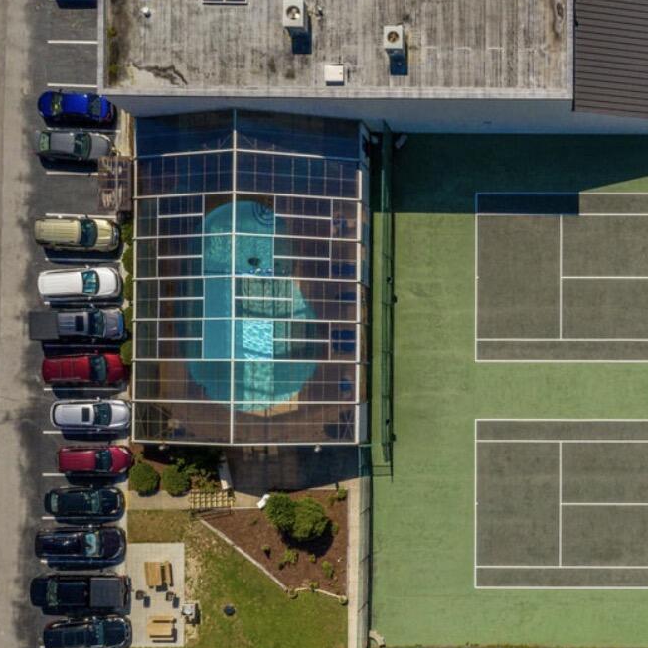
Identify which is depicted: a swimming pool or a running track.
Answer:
swimming pool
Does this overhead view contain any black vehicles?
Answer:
Yes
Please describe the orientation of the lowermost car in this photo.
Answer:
from side to side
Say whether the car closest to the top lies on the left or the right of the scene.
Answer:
left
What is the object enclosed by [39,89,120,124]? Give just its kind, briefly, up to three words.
car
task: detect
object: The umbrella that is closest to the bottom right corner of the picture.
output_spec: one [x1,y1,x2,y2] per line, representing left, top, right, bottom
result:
[341,378,358,390]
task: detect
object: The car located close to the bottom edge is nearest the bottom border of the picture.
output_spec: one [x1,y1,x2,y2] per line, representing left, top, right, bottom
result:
[47,614,135,647]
